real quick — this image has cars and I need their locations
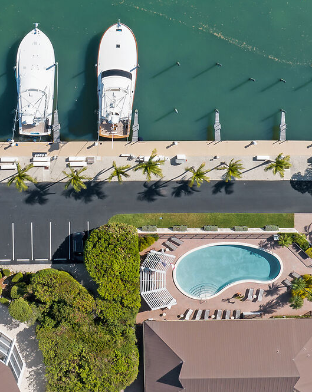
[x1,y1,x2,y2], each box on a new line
[71,230,86,261]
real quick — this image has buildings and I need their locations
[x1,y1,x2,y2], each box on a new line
[0,330,31,392]
[143,318,312,392]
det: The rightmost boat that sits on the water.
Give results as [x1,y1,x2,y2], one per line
[91,18,137,143]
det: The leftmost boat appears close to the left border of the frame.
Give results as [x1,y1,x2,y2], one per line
[10,27,54,143]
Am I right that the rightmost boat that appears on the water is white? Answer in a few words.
Yes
